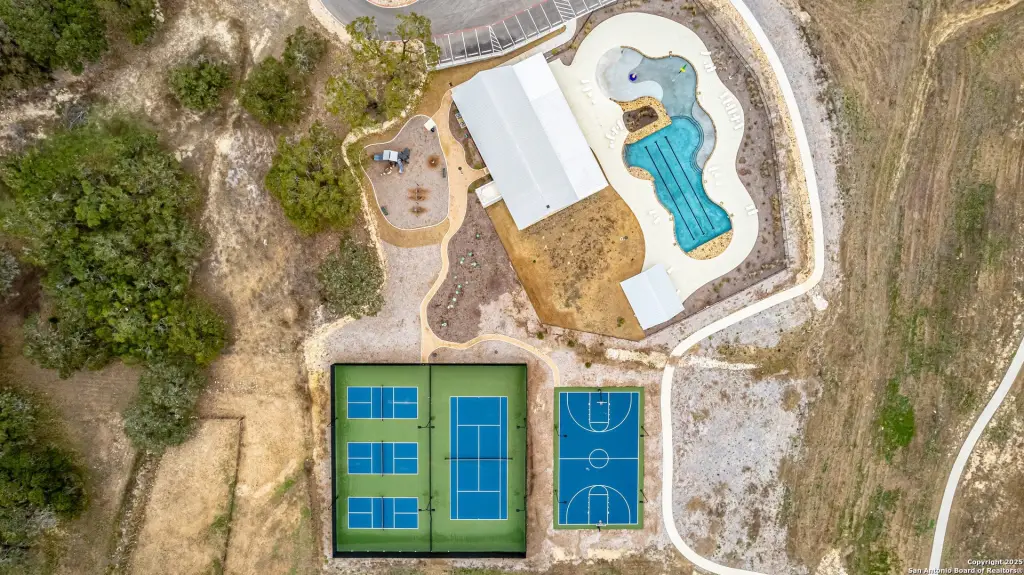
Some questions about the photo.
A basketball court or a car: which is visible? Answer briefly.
basketball court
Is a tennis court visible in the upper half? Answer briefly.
No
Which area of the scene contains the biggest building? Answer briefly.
top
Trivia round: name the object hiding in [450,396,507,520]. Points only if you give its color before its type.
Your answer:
blue tennis court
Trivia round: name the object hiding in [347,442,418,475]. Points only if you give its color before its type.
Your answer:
blue sports court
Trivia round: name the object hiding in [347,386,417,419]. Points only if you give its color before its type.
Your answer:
blue sports court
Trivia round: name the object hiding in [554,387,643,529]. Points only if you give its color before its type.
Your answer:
blue basketball court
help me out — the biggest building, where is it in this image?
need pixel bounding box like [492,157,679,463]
[450,52,609,230]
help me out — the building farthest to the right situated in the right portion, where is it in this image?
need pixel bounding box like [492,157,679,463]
[620,264,684,330]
